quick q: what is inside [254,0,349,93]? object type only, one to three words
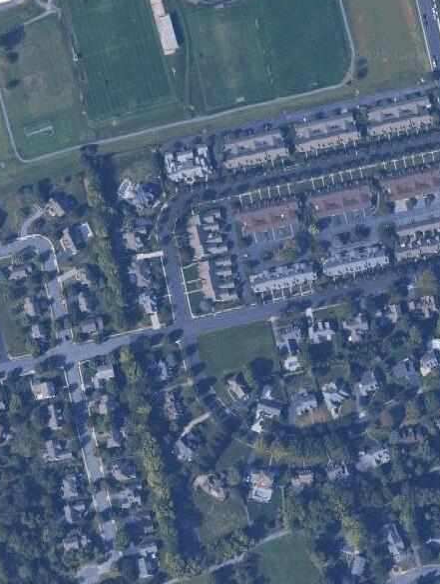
soccer field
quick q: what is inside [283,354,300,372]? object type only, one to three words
swimming pool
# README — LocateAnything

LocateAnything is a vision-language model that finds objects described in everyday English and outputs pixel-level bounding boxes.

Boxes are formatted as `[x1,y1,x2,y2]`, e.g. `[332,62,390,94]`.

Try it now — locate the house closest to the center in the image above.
[199,259,240,302]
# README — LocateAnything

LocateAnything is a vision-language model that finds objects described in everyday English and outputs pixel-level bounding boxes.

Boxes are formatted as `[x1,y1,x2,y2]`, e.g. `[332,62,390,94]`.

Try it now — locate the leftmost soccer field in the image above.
[61,0,181,130]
